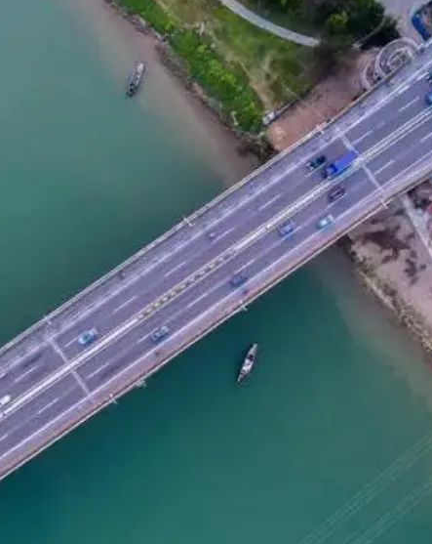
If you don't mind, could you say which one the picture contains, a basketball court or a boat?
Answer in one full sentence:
It is a boat that can be seen here.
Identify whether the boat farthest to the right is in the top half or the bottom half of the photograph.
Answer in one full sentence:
The bottom half of the photo is where the boat farthest to the right is.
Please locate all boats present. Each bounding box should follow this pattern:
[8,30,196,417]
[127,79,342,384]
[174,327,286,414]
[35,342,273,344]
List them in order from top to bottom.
[129,61,146,98]
[236,341,258,384]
